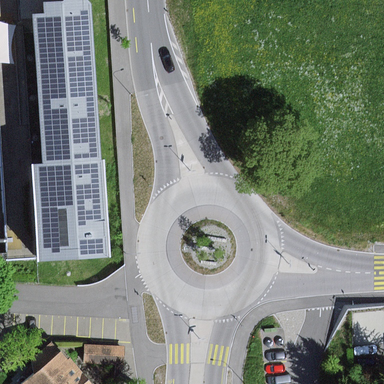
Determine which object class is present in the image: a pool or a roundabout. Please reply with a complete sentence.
Of the two, only a roundabout appears.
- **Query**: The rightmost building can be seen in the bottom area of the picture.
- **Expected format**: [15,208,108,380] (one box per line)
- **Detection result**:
[82,344,124,364]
